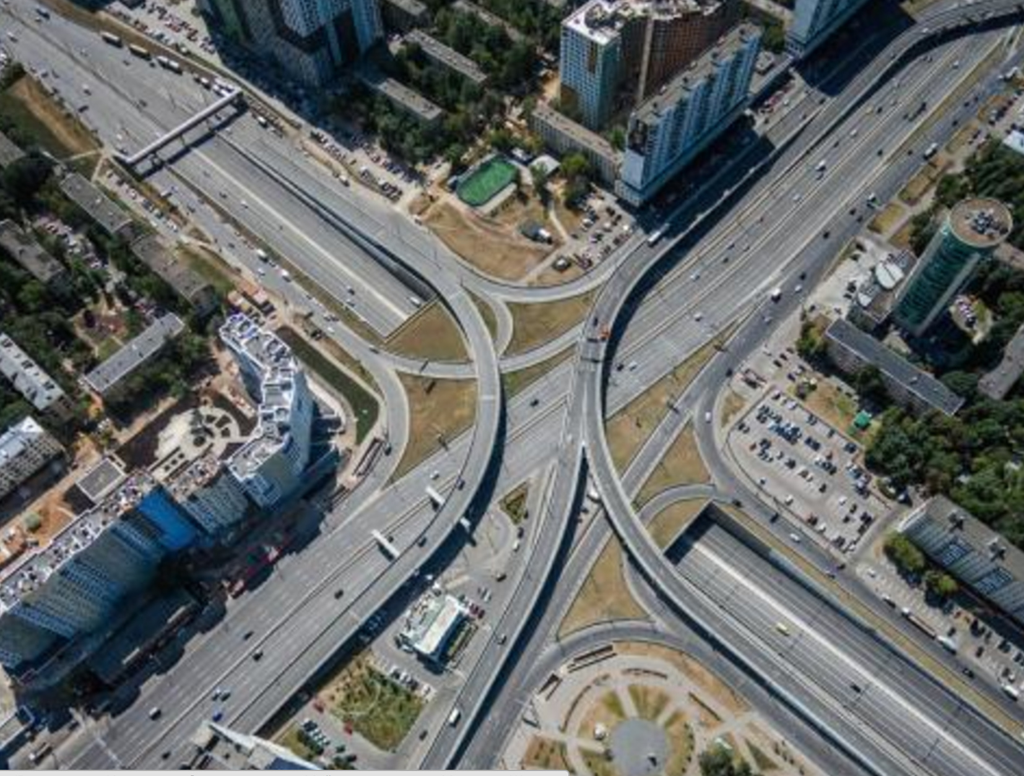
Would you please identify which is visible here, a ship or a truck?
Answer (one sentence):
The one in the frame is a truck.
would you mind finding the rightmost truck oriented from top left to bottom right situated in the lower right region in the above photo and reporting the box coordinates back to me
[1001,684,1024,706]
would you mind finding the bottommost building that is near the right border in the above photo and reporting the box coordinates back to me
[904,495,1024,615]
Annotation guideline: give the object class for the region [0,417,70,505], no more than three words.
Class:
building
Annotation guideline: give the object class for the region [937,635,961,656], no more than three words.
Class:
truck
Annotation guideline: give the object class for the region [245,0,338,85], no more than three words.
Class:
building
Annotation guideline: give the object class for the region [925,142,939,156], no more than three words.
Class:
vehicle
